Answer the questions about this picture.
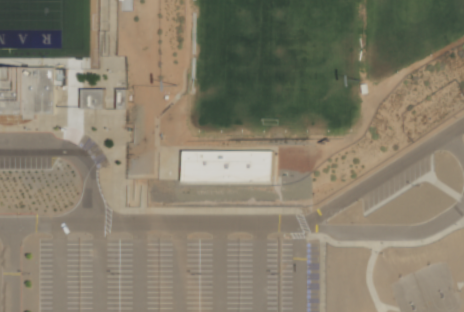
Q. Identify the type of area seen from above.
sports ground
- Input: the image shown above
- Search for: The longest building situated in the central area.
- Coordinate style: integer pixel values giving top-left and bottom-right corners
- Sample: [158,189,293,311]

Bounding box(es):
[182,150,275,182]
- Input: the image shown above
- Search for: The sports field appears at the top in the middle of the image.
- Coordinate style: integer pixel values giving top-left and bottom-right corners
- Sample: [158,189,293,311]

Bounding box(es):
[184,0,364,138]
